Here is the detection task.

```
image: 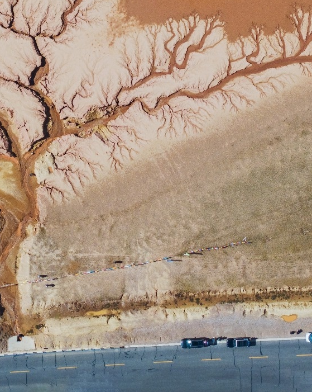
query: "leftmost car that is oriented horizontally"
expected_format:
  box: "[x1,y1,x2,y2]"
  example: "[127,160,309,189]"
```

[181,338,207,351]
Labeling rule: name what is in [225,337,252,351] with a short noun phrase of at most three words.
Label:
vehicle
